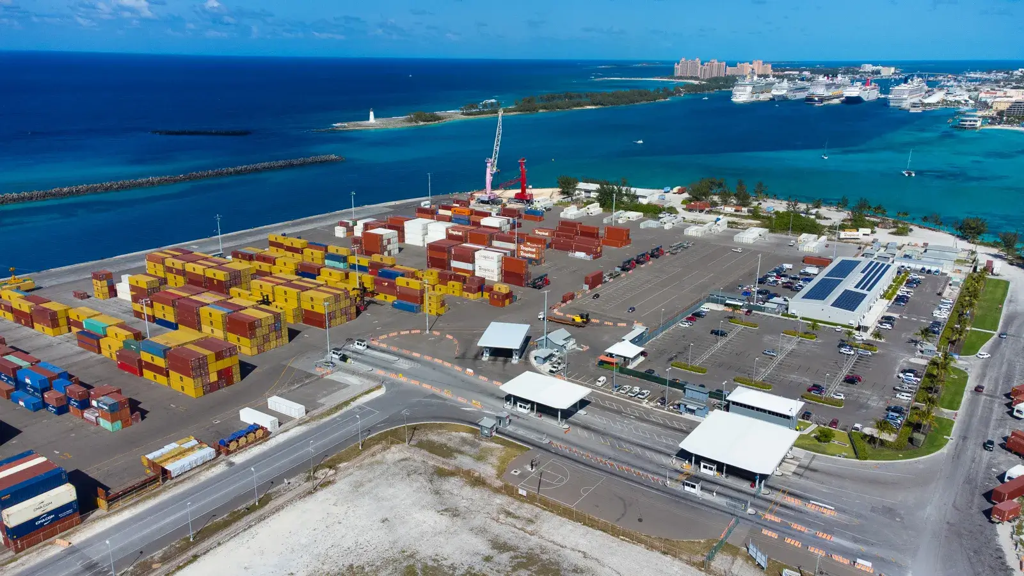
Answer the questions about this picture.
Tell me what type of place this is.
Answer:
port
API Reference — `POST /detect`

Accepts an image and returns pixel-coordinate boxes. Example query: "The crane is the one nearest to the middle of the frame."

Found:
[498,156,538,203]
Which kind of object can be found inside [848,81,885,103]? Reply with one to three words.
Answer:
ship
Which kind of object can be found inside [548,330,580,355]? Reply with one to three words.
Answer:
building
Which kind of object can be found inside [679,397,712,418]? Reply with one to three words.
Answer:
shed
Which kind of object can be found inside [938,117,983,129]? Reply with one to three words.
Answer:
house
